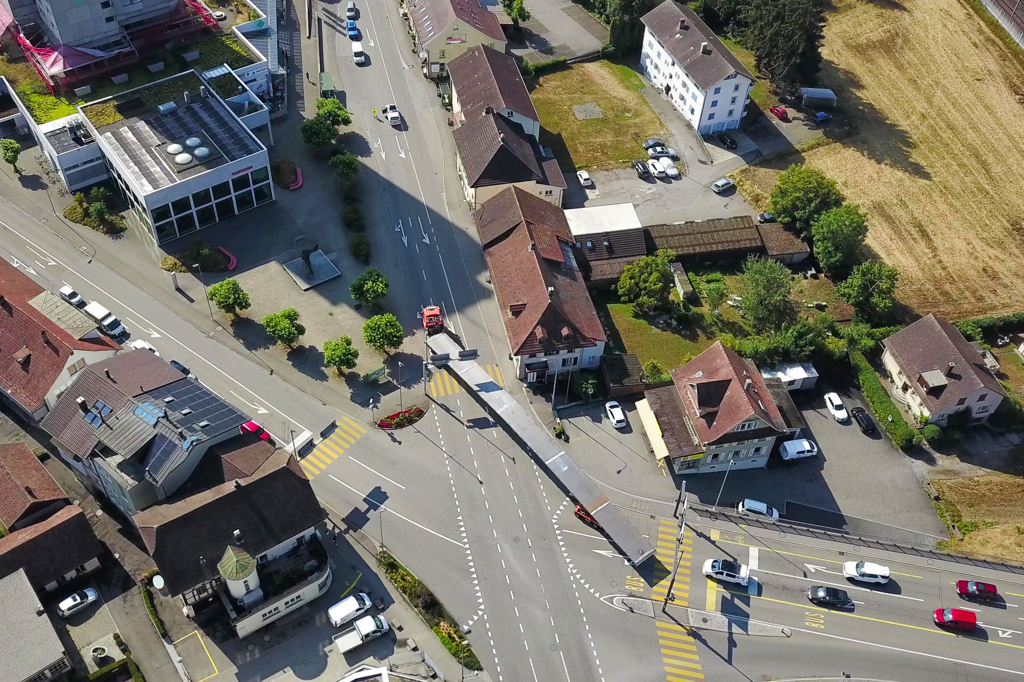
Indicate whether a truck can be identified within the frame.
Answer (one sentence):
Yes, there is a truck in the image.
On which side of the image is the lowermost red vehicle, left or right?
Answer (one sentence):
You can find the lowermost red vehicle on the right side of the picture.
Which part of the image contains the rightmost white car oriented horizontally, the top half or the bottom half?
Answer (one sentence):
The bottom half of the photo is where the rightmost white car oriented horizontally is.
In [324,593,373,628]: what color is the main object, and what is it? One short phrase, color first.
white van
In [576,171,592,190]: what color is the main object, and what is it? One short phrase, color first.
white car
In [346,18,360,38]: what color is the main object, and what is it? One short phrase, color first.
blue car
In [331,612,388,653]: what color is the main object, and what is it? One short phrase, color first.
white truck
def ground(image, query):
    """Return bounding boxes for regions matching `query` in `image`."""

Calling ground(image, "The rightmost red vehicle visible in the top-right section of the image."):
[767,106,790,122]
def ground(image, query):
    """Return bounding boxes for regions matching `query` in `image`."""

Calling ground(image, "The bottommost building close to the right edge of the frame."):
[882,312,1011,420]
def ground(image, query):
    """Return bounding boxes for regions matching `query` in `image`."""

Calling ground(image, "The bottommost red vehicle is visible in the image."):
[932,606,979,632]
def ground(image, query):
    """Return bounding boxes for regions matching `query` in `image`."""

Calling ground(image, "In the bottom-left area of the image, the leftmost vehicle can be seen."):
[52,588,102,621]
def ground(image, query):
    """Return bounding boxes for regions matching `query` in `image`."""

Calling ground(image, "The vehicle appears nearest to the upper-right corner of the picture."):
[809,111,833,125]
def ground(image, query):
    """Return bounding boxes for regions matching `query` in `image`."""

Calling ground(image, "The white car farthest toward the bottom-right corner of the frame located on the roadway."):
[845,559,889,585]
